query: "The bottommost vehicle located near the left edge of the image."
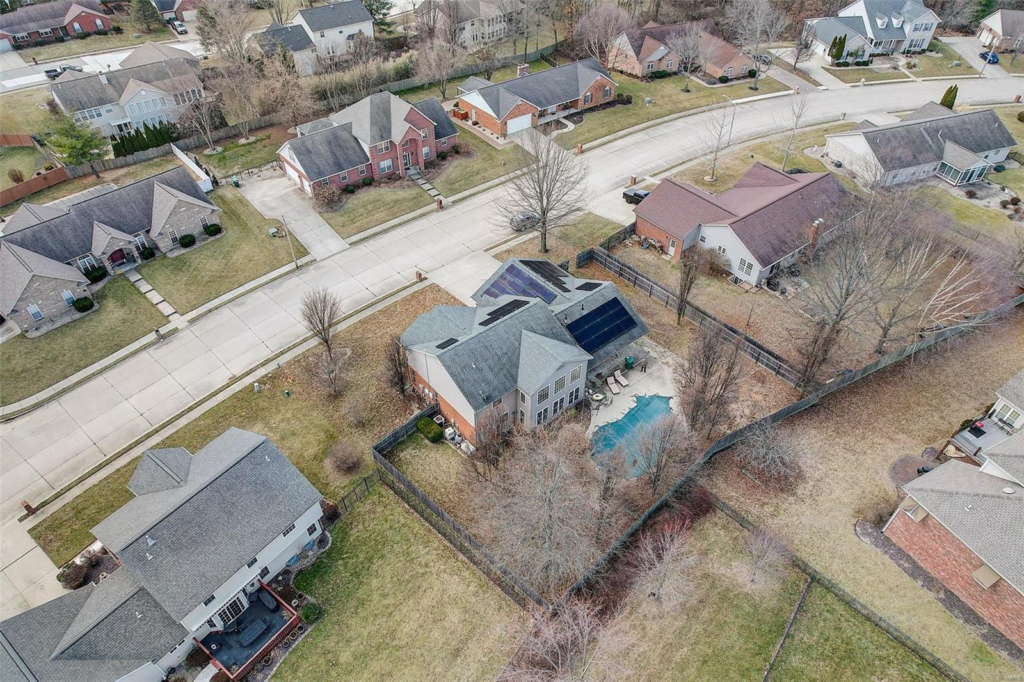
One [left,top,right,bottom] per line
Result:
[45,63,79,77]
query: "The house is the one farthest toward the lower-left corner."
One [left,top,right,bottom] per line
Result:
[0,428,324,682]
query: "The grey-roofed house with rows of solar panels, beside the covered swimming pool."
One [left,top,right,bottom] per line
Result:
[398,257,651,450]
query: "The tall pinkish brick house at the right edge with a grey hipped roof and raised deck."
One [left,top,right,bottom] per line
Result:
[882,376,1024,667]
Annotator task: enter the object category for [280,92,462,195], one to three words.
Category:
house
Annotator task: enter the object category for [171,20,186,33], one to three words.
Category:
vehicle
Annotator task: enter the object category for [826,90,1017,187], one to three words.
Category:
house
